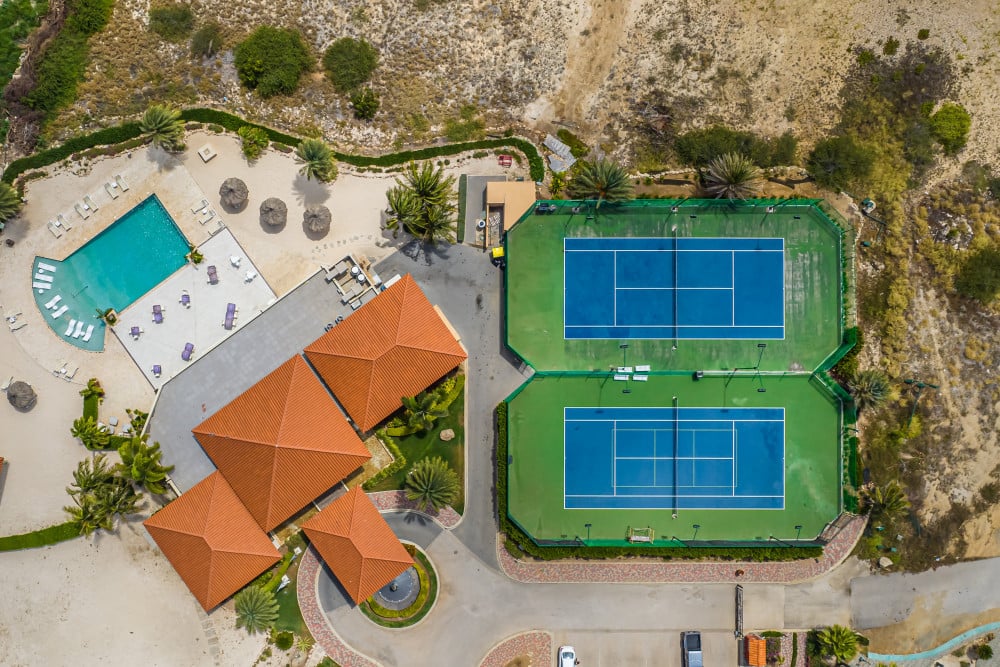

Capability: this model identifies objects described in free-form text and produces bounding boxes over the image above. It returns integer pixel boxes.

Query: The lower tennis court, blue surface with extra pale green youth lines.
[511,373,841,540]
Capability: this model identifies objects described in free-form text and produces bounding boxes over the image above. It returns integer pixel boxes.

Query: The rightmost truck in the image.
[682,630,704,667]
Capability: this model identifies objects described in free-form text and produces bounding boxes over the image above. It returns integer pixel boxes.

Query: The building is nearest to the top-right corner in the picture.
[485,181,536,236]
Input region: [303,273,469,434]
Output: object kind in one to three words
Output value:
building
